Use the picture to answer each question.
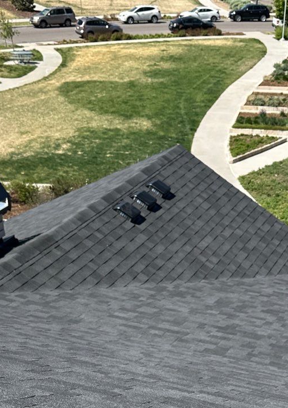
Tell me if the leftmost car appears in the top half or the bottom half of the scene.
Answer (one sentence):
The top half of the photo is where the leftmost car is.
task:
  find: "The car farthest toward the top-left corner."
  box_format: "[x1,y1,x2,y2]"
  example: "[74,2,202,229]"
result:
[26,3,73,27]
